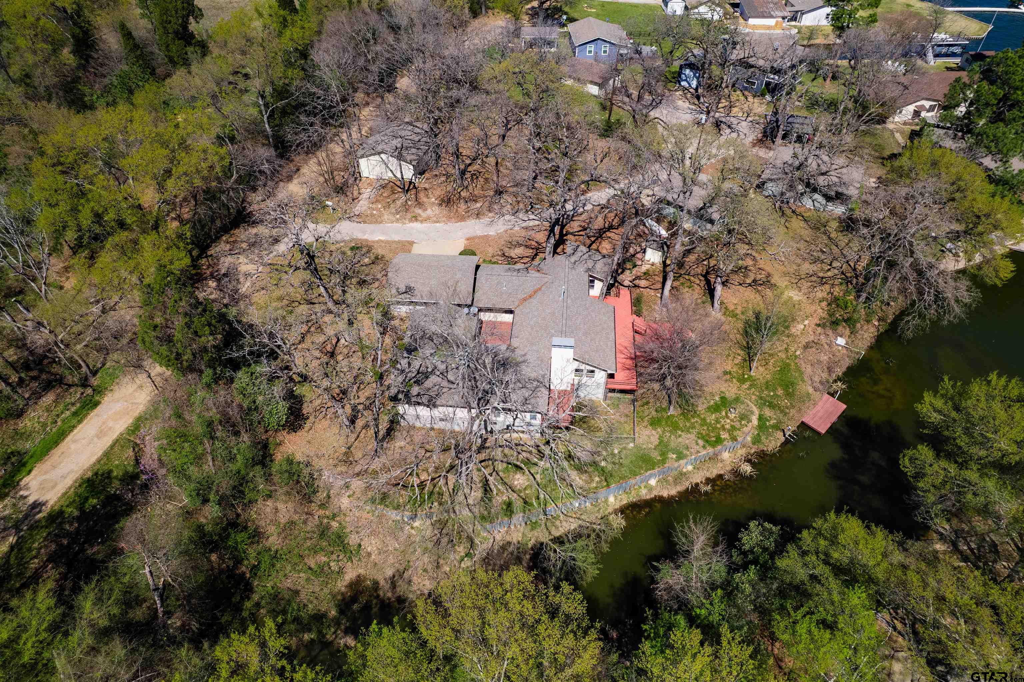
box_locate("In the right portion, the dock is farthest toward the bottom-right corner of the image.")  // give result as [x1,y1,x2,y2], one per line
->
[800,395,847,436]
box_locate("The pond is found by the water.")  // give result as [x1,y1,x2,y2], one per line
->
[298,256,1024,682]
